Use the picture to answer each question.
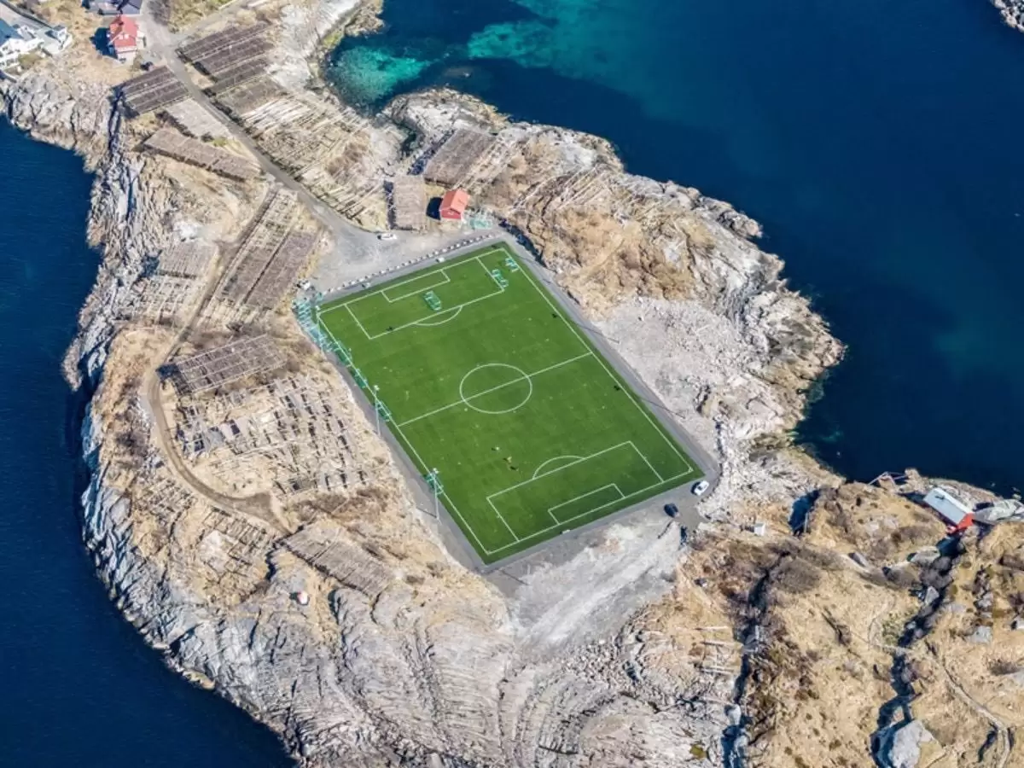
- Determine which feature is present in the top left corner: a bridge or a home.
home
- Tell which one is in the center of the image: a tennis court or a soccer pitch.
soccer pitch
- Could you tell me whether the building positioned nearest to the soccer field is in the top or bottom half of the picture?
top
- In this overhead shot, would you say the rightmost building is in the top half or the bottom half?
bottom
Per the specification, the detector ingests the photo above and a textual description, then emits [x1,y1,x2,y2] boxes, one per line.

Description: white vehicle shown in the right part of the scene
[693,481,707,495]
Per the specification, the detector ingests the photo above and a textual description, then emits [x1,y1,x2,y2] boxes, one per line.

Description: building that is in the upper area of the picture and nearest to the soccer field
[441,189,466,219]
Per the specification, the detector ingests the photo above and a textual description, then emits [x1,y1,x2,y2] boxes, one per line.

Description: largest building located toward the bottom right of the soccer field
[917,482,976,545]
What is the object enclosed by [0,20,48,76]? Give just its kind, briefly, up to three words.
house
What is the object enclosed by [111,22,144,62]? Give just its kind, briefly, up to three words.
house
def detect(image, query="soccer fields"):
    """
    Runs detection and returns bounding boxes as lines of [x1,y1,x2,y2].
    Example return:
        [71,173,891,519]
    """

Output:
[309,240,705,564]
